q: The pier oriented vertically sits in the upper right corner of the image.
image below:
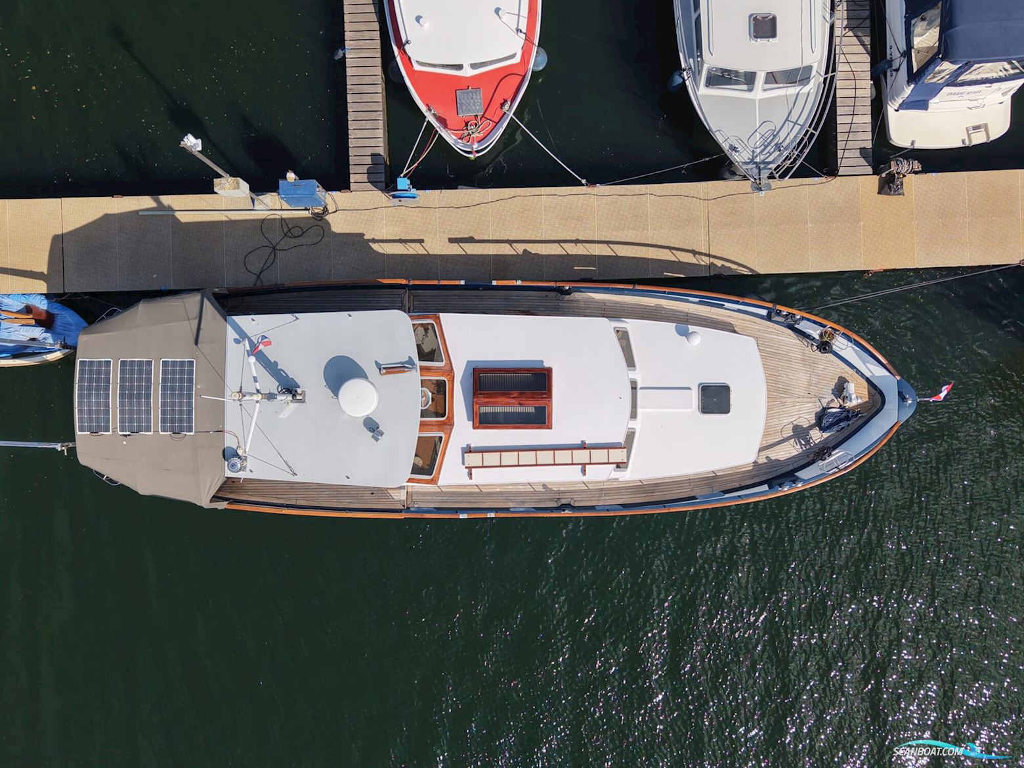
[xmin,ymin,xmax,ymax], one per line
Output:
[828,0,873,177]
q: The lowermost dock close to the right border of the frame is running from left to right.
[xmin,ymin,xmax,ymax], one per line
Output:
[709,169,1024,277]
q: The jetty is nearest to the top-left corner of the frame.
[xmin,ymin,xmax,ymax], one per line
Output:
[0,198,70,296]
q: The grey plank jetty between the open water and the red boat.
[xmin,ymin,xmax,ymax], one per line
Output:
[344,0,395,191]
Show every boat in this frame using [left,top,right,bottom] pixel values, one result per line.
[0,278,954,517]
[876,0,1024,151]
[382,0,545,166]
[0,290,91,369]
[668,0,846,192]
